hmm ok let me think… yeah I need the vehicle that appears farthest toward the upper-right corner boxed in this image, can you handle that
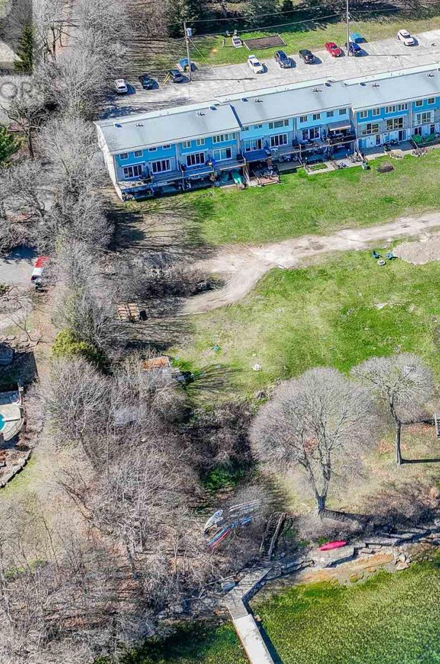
[396,25,417,43]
